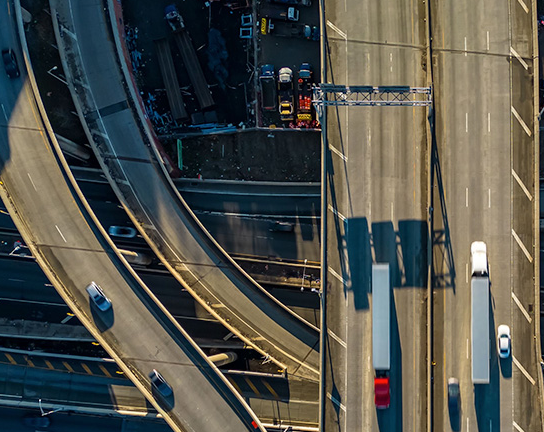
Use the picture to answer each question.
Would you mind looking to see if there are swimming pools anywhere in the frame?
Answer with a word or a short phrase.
No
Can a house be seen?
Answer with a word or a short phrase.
No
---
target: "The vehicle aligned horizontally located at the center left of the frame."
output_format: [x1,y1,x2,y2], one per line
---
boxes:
[110,225,138,238]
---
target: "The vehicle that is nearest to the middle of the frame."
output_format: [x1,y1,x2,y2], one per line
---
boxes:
[271,220,296,233]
